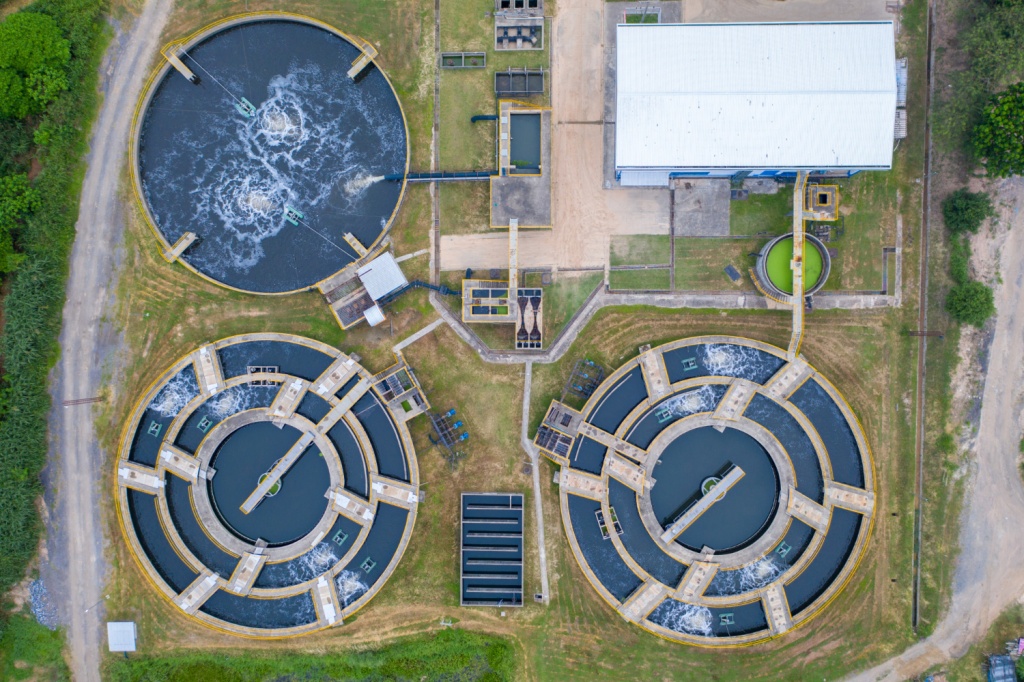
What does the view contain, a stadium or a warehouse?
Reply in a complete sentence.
Of the two, only a warehouse appears.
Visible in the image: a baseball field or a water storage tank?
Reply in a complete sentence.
Looking from above, you can make out a water storage tank.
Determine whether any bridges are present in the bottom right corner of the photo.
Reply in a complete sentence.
Yes, there is a bridge in the bottom right corner of the photo.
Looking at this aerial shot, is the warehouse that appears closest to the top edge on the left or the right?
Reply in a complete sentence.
The warehouse that appears closest to the top edge is on the right side of the image.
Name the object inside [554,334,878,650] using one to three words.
water tank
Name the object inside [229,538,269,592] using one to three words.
bridge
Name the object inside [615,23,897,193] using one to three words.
warehouse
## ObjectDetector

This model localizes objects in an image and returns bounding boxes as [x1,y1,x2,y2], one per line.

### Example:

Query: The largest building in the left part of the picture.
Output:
[314,240,409,328]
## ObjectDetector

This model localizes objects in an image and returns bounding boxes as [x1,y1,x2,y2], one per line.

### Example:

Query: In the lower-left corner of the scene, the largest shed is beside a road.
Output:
[107,619,138,658]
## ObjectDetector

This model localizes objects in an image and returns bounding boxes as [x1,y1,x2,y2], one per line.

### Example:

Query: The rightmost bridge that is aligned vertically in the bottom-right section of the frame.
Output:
[761,585,794,638]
